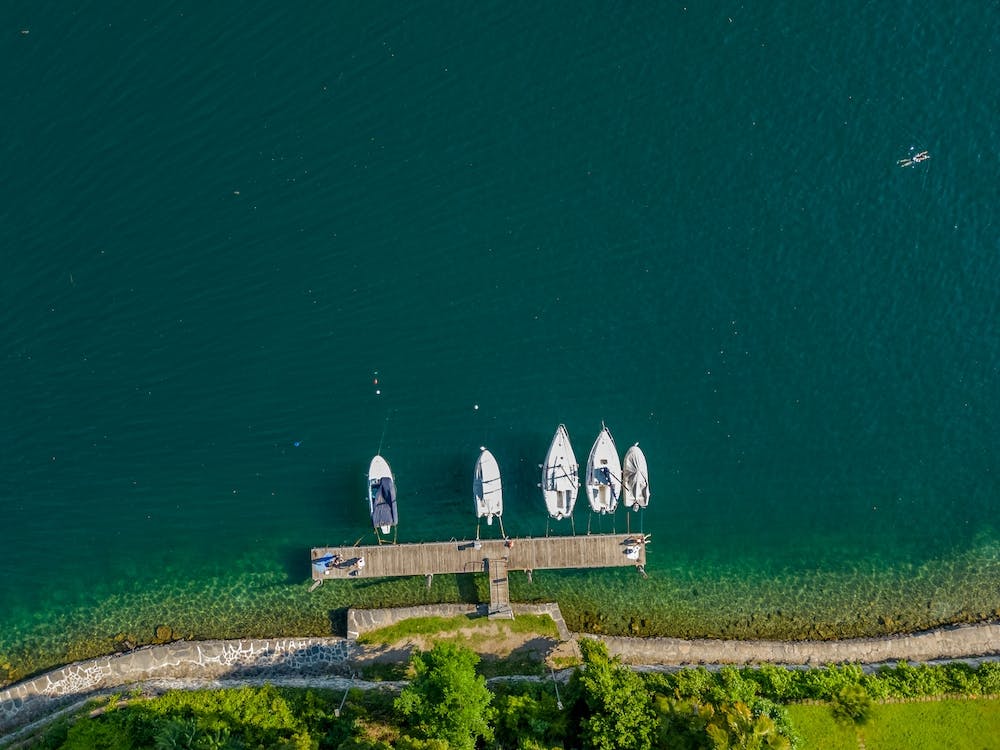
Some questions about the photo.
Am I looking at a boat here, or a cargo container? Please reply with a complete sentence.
The one in the frame is a boat.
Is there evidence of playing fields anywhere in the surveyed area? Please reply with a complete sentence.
No, no playing field can be seen from above.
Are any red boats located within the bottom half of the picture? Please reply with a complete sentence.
No, I can find no red boat within the bottom half of the picture.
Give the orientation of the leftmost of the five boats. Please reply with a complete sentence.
The leftmost of the five boats is oriented vertically.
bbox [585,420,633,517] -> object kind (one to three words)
boat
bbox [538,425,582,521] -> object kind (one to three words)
boat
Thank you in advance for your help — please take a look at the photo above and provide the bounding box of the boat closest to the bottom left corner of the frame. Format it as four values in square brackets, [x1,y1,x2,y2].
[365,456,400,537]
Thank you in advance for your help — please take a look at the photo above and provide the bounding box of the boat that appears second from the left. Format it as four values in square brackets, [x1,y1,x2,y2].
[473,444,501,525]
